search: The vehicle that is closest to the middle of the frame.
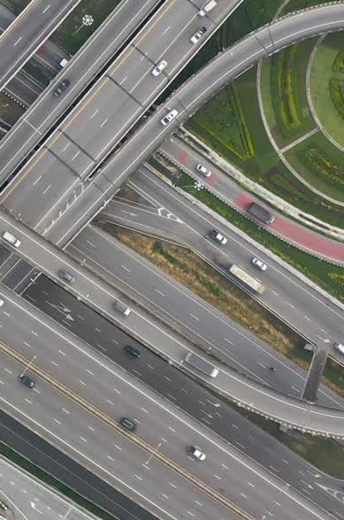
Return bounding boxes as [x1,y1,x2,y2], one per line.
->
[207,229,226,243]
